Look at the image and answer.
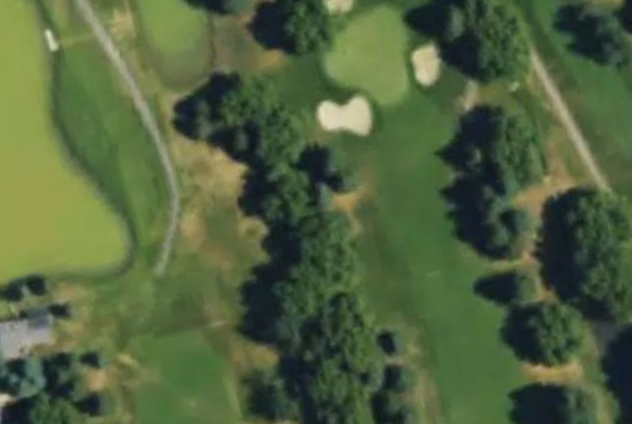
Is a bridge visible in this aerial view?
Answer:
No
